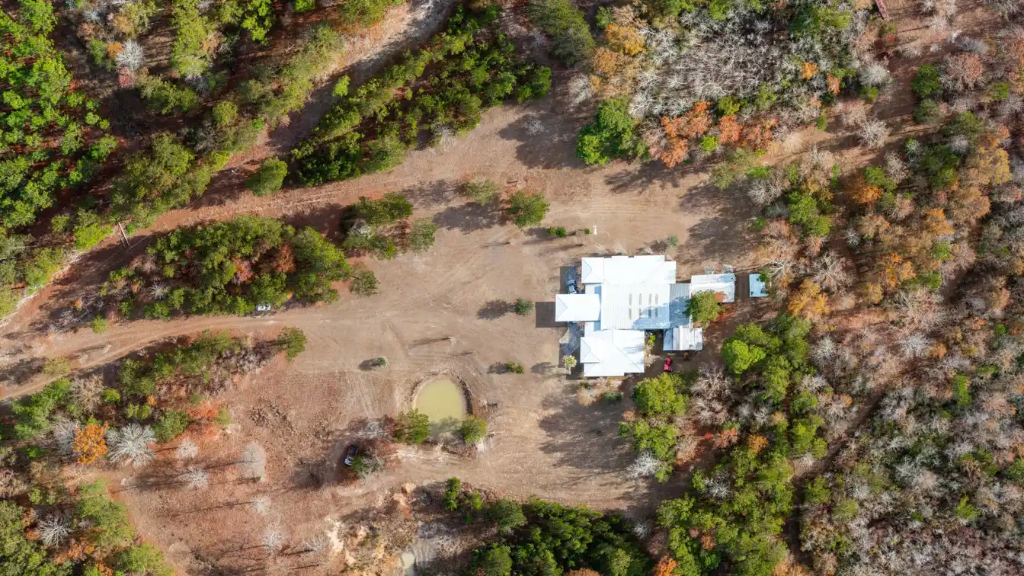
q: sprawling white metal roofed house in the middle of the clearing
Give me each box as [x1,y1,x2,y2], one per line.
[555,255,692,377]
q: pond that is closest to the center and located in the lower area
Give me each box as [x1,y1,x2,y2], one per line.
[416,380,467,444]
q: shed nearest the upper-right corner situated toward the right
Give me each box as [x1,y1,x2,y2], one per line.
[749,274,768,298]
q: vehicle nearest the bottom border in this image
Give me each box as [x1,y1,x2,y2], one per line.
[344,443,358,466]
